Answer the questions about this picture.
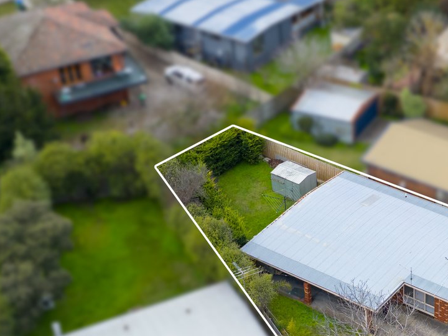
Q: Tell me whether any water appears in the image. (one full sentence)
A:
No, there is no water in the image.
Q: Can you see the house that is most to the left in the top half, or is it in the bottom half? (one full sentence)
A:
It is in the top half that the house that is most to the left appears.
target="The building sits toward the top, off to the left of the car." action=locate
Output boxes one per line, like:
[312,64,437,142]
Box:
[0,0,149,117]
